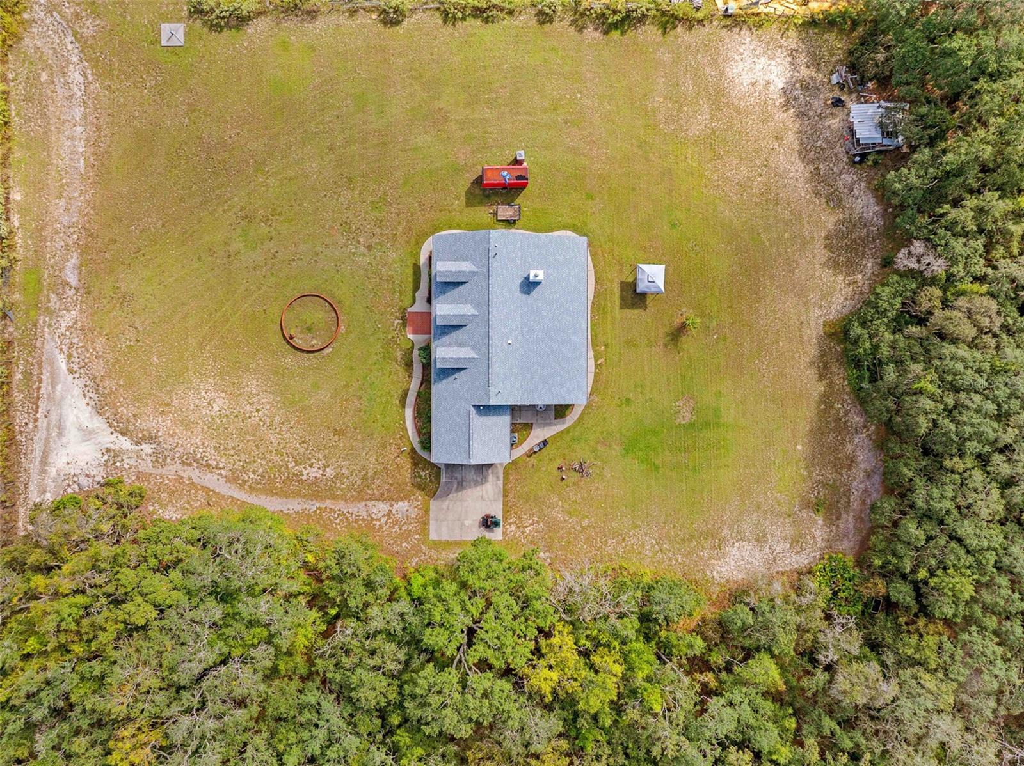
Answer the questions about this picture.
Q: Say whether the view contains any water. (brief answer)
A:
No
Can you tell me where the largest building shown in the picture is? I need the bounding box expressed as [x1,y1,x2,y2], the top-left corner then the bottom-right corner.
[432,230,588,464]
